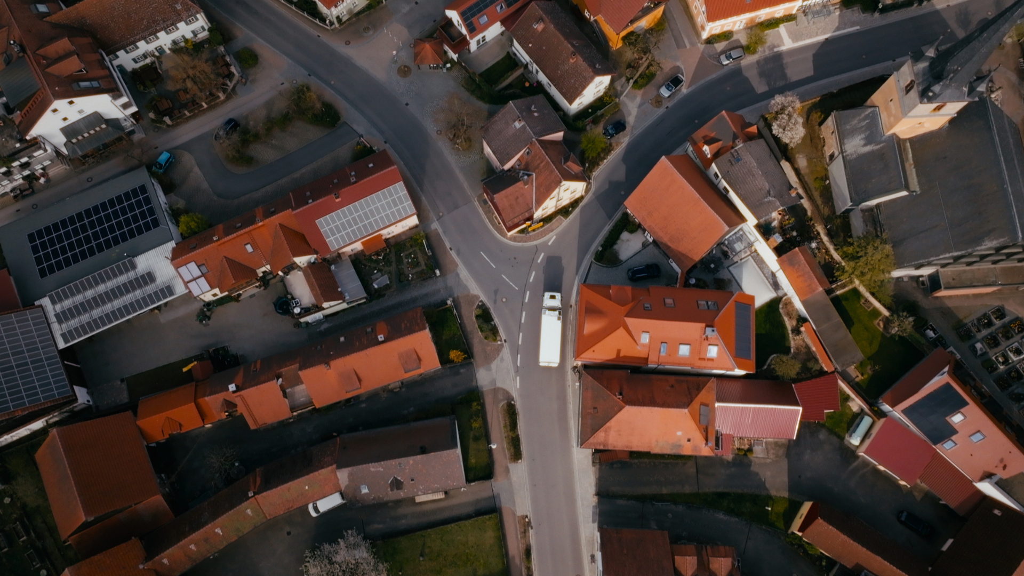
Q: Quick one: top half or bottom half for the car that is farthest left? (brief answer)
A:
top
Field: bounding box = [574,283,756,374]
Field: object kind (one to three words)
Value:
house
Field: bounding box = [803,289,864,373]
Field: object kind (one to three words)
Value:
shed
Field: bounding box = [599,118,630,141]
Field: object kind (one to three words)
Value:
car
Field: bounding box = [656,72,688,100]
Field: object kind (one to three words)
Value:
car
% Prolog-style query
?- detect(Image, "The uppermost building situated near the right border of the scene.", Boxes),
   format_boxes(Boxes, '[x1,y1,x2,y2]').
[817,4,1024,273]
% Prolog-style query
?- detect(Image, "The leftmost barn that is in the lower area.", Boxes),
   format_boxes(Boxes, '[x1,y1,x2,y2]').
[0,304,91,425]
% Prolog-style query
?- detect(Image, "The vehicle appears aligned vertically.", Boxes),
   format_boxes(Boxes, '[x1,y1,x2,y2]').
[539,293,564,370]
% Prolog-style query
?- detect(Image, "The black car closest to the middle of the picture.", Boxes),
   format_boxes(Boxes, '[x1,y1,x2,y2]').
[626,263,662,282]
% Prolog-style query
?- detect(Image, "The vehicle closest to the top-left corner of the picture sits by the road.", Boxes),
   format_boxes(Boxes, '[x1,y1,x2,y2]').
[150,148,177,174]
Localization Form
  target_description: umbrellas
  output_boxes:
[36,175,50,187]
[34,167,48,178]
[292,305,303,316]
[686,276,696,286]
